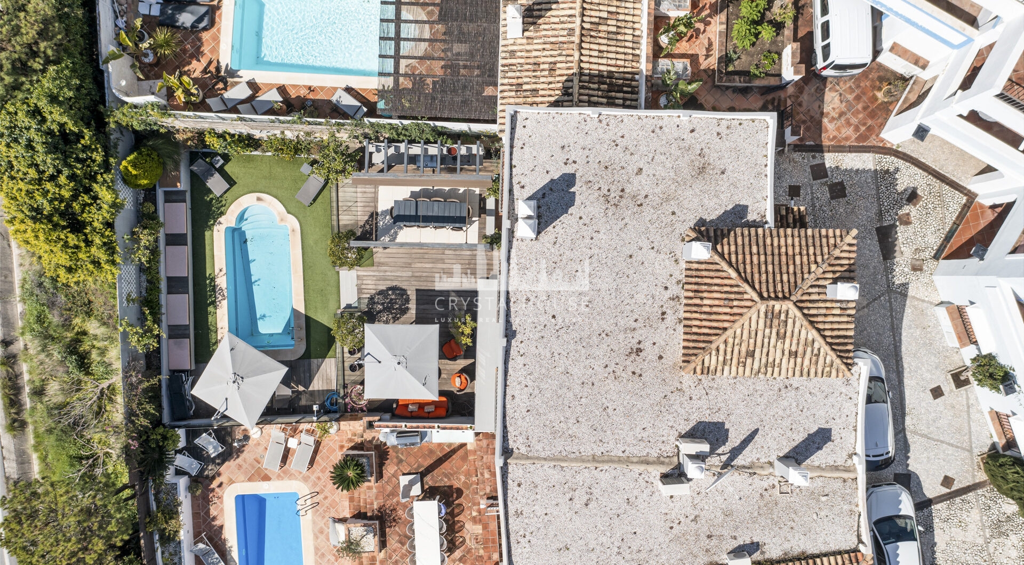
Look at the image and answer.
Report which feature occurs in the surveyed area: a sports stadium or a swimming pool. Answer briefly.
swimming pool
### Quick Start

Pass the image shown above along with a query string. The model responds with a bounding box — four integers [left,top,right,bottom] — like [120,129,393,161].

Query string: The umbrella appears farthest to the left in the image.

[191,333,289,430]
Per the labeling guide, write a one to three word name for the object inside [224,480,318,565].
swimming pool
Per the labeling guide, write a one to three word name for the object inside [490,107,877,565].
house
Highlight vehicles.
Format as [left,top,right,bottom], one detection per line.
[805,0,874,77]
[853,345,903,474]
[866,479,928,565]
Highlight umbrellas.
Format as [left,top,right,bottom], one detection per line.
[345,324,439,400]
[191,333,289,430]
